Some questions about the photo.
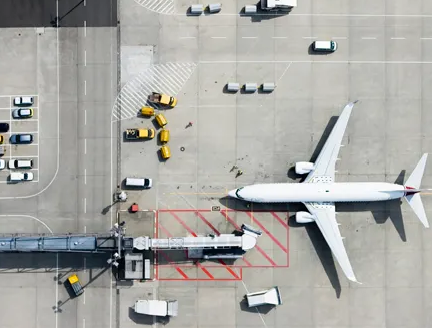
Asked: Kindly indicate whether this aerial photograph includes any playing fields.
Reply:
No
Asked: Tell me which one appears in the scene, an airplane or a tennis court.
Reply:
airplane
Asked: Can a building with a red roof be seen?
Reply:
No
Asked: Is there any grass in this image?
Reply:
No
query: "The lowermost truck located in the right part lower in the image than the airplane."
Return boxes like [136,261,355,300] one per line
[245,284,282,306]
